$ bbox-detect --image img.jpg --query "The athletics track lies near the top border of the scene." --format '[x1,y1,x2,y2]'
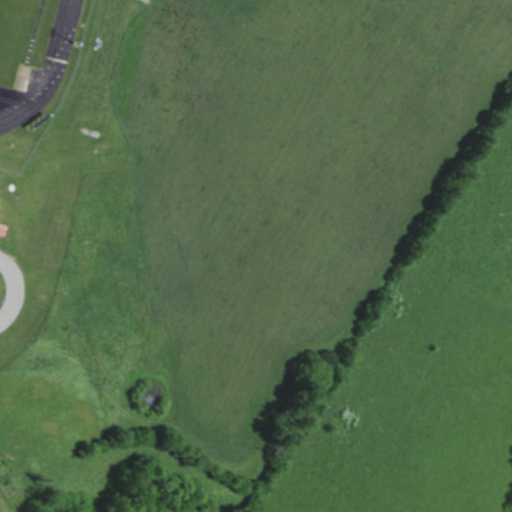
[0,0,82,134]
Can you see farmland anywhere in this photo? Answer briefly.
Yes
